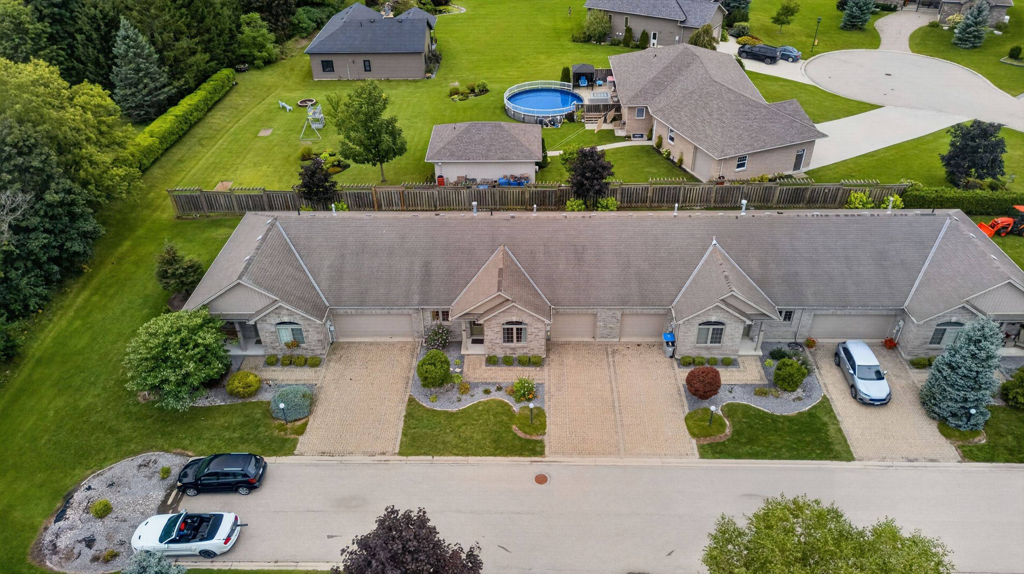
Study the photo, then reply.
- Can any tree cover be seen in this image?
Yes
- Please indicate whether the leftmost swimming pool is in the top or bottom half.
top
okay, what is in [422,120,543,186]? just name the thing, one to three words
shed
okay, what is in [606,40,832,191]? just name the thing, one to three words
house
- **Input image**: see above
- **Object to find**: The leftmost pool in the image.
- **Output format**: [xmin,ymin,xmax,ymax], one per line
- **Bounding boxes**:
[504,82,585,127]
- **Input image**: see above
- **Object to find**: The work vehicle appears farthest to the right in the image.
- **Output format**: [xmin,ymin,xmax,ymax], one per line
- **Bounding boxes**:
[979,197,1024,235]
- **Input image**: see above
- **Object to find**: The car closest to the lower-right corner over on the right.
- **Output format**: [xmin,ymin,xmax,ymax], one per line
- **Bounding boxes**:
[835,339,899,405]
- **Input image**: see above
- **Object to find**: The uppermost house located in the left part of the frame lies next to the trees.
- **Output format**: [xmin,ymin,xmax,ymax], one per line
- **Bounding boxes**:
[299,1,445,79]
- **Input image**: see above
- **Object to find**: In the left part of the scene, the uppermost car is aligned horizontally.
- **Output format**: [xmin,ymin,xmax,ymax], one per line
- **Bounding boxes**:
[172,449,272,496]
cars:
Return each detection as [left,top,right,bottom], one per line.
[741,44,783,64]
[835,339,899,405]
[172,449,272,496]
[779,46,804,62]
[124,504,243,559]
